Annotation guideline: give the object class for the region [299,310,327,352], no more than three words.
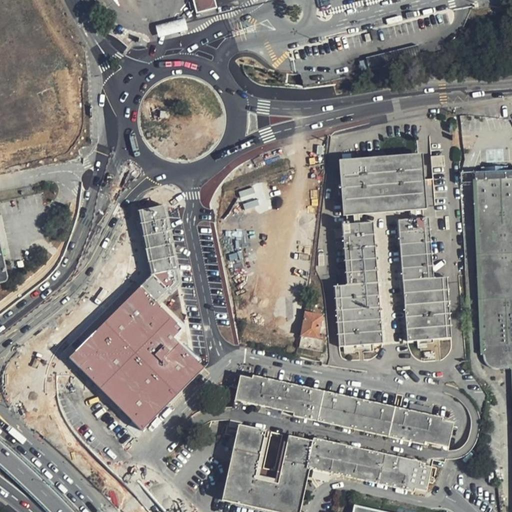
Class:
house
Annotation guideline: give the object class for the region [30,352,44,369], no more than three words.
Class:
vehicle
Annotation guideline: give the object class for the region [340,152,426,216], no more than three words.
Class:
building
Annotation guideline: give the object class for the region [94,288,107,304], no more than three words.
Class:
vehicle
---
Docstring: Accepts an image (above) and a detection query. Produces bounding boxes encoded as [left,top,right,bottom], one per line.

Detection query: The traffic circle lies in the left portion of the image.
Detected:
[116,52,248,184]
